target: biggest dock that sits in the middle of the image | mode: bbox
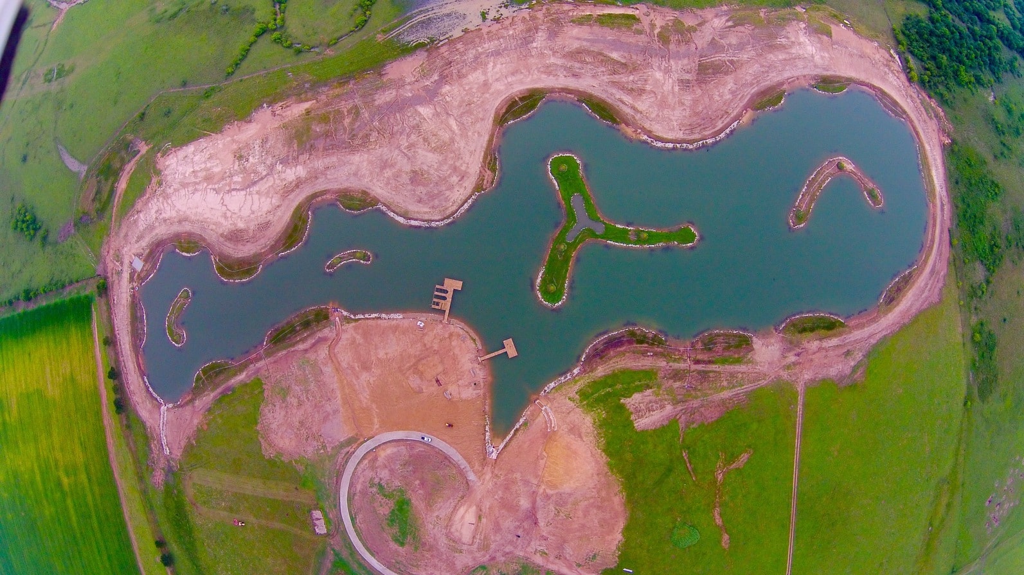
[432,278,462,324]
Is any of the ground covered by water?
Yes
